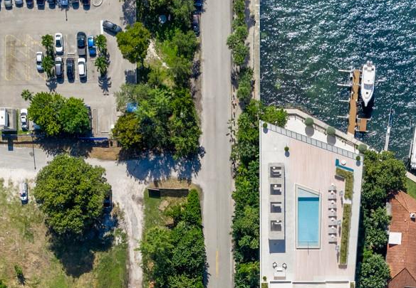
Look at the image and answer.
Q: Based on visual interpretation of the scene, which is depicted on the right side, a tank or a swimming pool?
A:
swimming pool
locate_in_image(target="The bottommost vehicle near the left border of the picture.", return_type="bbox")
[18,179,30,203]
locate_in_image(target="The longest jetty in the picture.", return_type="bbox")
[349,66,361,137]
